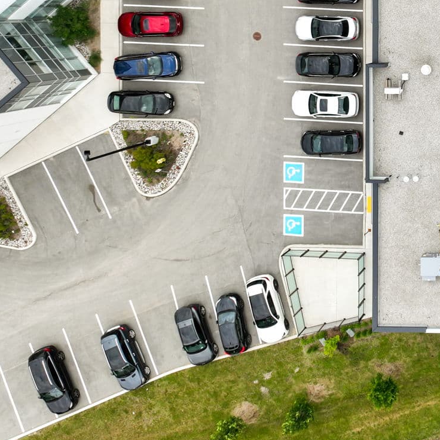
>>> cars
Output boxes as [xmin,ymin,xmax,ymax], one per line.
[116,8,183,41]
[291,88,360,121]
[246,276,289,344]
[110,50,182,81]
[300,128,362,160]
[28,347,78,416]
[97,325,149,393]
[294,12,360,44]
[293,49,361,80]
[209,293,255,361]
[294,0,361,7]
[173,302,218,368]
[105,88,175,120]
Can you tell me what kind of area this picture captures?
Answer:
parking lot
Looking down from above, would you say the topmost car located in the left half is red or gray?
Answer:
red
